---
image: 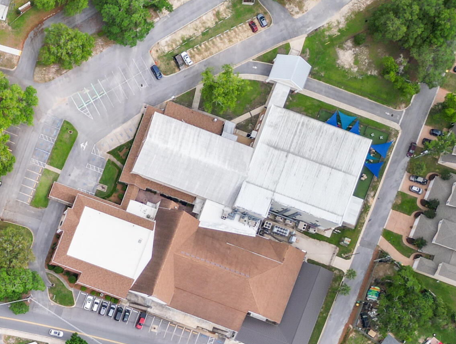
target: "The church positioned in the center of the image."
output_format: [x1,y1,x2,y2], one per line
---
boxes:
[48,54,372,344]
